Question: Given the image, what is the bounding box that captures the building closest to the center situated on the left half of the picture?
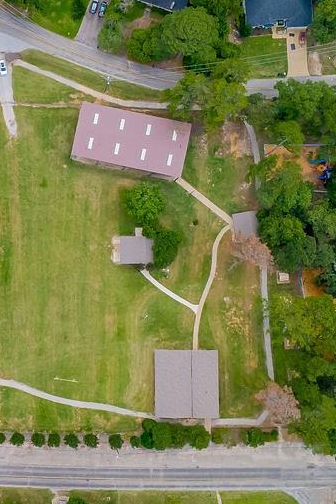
[112,228,153,265]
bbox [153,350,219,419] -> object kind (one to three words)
building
